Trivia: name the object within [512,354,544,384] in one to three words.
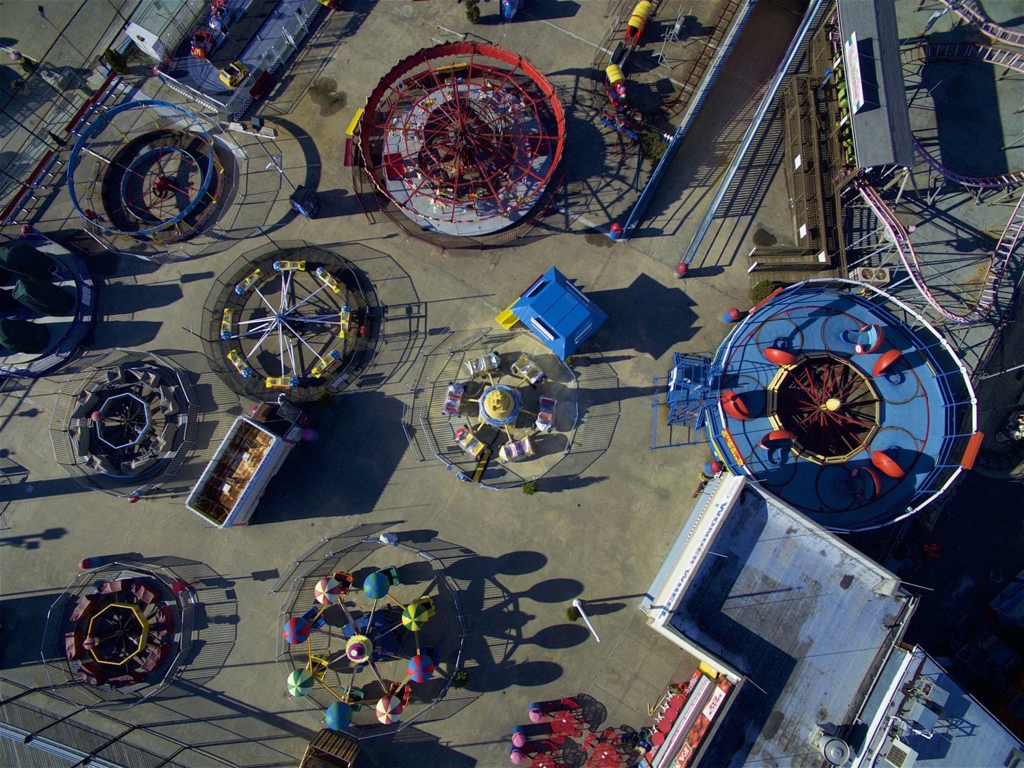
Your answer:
car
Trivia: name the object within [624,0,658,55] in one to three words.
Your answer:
rail car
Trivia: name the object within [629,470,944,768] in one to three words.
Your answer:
building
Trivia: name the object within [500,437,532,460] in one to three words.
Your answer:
car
